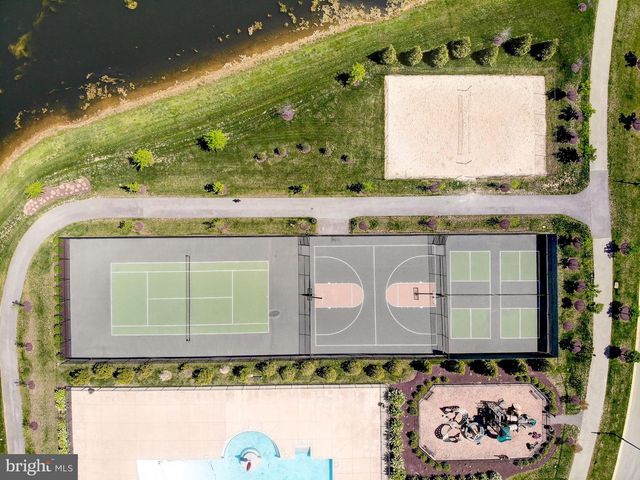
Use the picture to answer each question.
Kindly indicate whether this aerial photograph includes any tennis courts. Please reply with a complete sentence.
Yes, there's a tennis court down there.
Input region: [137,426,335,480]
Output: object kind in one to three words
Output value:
swimming pool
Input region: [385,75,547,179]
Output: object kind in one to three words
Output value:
sports court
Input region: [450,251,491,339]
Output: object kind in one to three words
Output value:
sports court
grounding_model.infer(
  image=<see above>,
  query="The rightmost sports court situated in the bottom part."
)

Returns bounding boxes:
[500,251,540,339]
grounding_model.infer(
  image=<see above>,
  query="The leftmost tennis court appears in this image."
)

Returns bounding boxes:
[71,236,311,359]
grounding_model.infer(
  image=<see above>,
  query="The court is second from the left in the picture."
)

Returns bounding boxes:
[310,235,441,356]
